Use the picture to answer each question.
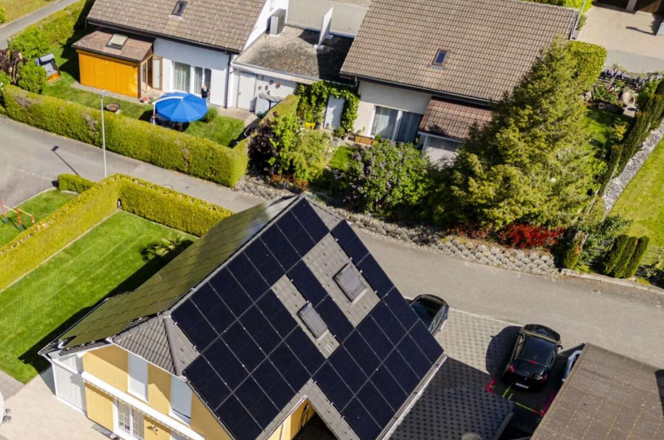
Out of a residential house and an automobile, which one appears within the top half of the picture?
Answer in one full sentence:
What appears within the top half of the picture is a residential house.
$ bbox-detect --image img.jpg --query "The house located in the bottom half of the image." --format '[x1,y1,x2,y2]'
[34,194,447,440]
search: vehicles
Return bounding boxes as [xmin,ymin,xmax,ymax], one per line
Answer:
[554,341,586,398]
[412,284,464,341]
[502,323,567,393]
